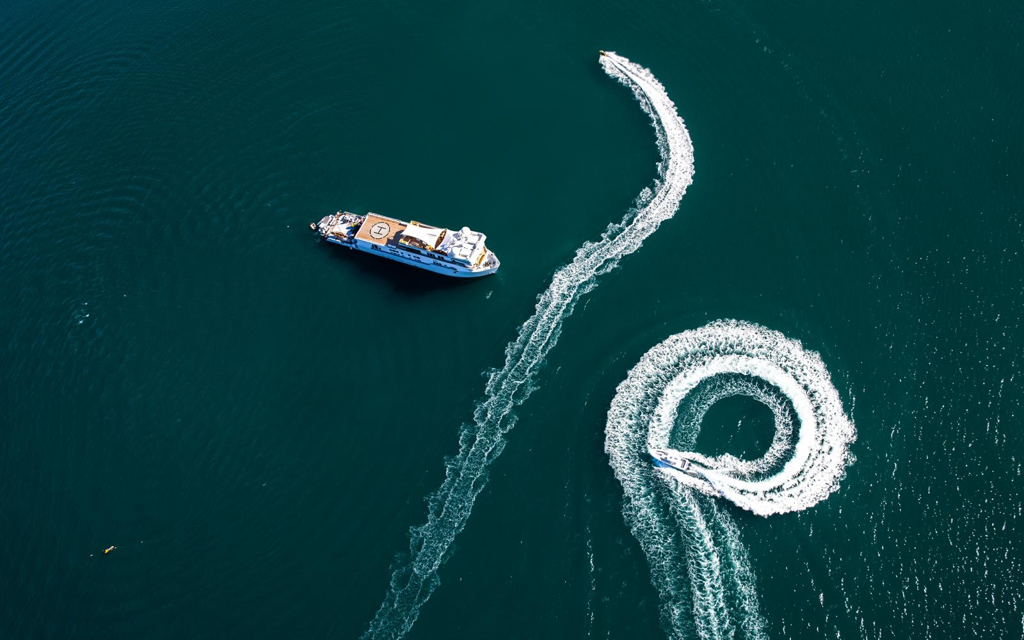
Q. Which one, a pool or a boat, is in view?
boat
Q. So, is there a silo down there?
No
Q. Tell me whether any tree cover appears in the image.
No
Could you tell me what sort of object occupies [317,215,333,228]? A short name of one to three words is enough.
boat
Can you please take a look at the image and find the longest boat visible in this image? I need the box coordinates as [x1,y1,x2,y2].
[319,211,501,277]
